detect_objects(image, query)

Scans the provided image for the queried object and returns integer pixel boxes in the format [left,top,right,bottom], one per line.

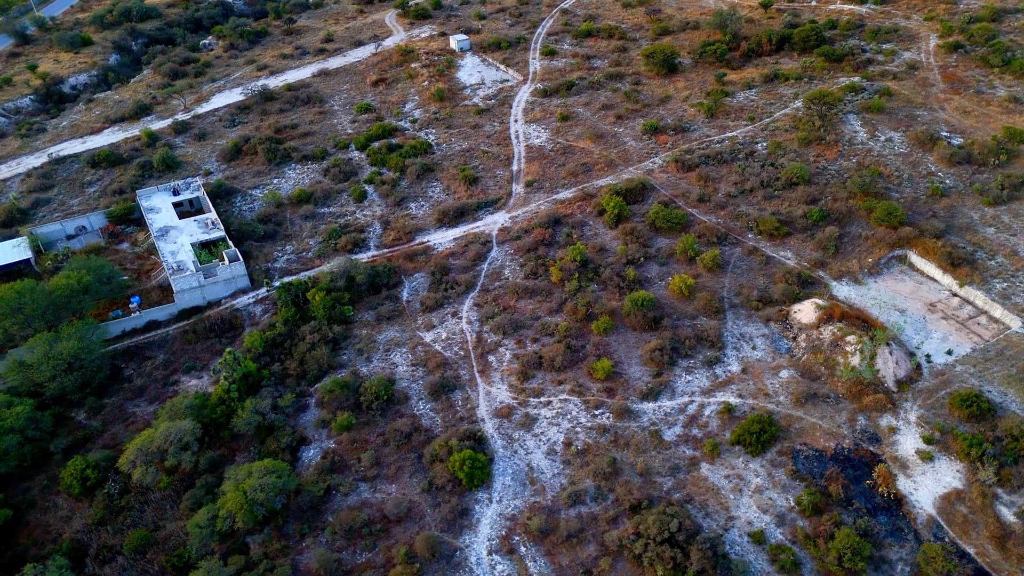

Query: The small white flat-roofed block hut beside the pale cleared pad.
[449,35,470,55]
